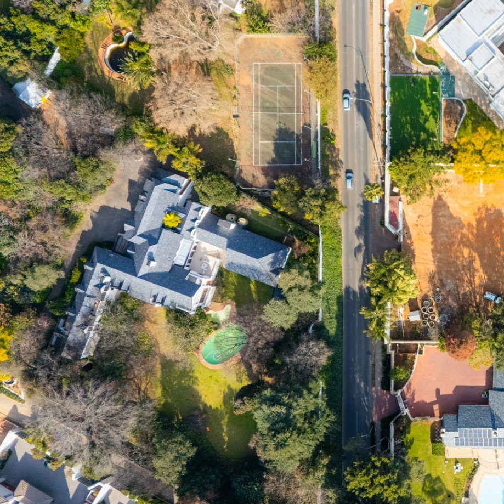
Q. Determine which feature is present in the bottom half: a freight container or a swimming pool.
swimming pool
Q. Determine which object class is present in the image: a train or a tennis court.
tennis court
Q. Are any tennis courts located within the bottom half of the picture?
No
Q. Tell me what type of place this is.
residential area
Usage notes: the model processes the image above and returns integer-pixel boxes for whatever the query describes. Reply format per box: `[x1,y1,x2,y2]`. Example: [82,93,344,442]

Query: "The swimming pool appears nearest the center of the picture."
[204,301,236,328]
